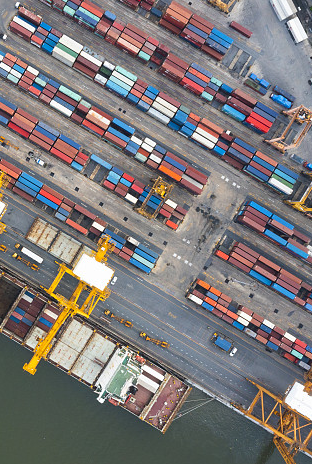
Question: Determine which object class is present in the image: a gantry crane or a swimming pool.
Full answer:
The one in the frame is a gantry crane.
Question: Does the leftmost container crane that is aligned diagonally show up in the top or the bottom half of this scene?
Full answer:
It is in the bottom half that the leftmost container crane that is aligned diagonally appears.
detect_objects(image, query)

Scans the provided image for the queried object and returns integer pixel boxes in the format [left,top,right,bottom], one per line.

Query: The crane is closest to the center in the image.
[133,179,178,221]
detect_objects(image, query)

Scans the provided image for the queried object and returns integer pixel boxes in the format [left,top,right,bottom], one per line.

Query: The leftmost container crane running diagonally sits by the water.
[20,236,118,380]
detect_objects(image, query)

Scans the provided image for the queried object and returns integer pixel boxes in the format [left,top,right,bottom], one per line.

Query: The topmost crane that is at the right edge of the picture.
[263,105,312,155]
